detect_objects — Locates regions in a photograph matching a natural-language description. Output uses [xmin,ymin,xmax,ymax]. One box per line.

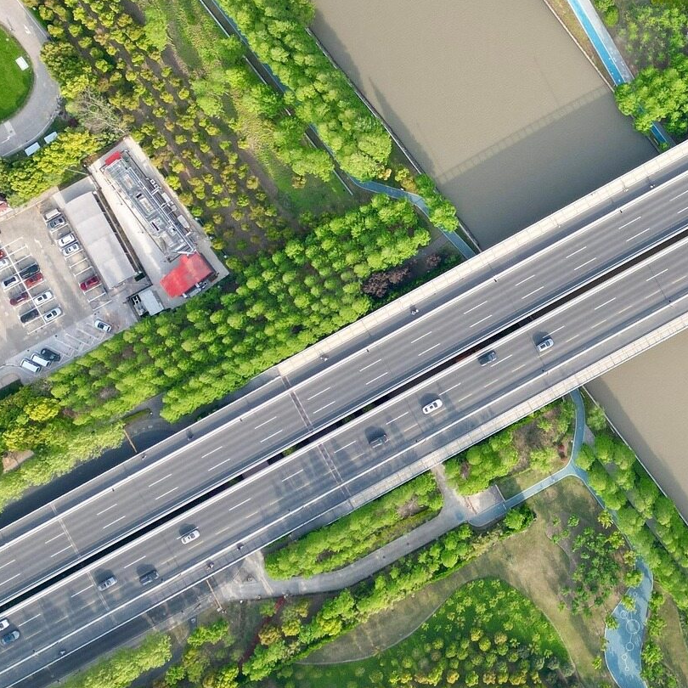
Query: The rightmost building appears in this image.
[161,250,223,297]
